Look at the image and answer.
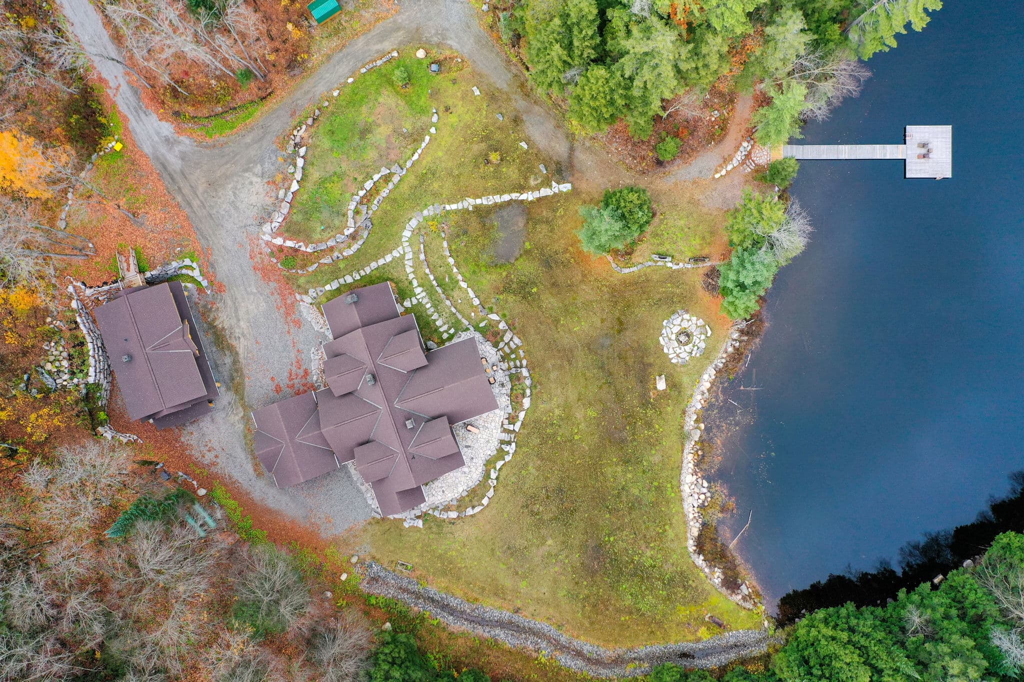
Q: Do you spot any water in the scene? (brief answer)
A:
Yes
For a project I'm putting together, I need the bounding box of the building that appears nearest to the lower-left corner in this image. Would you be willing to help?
[96,280,231,430]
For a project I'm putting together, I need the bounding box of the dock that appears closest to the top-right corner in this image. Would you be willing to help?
[904,125,952,179]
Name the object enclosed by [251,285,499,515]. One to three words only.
house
